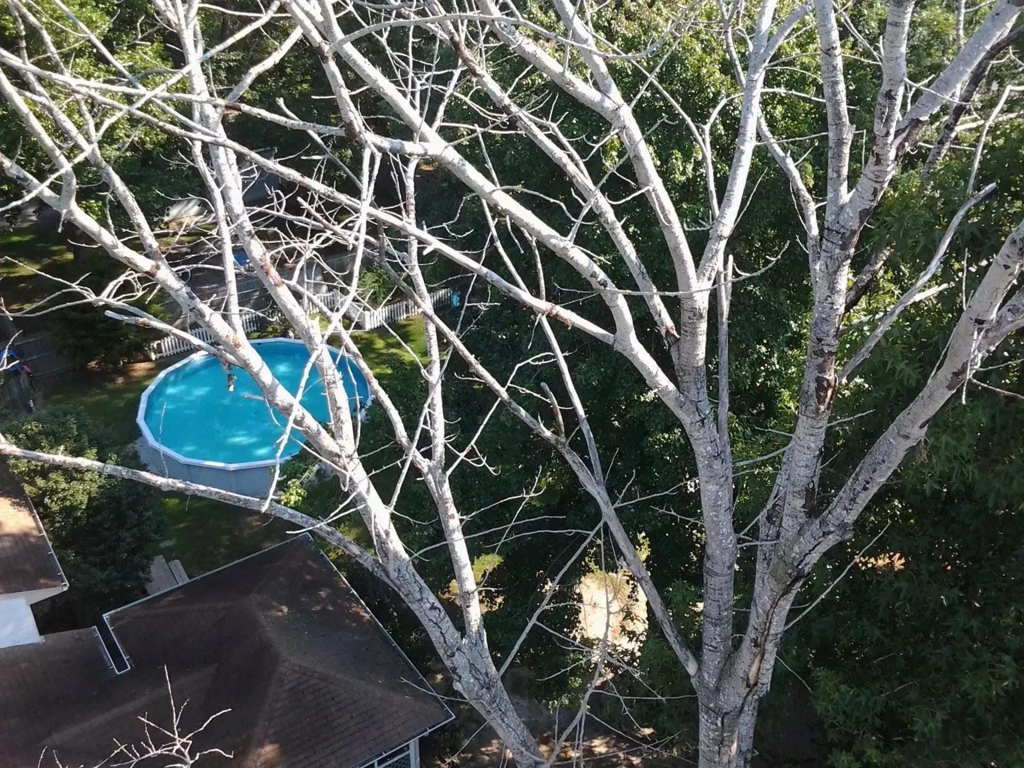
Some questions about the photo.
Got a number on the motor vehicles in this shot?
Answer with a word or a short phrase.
zero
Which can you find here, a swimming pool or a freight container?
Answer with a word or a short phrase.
swimming pool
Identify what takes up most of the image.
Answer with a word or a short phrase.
trees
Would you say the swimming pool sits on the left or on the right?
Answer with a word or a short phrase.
left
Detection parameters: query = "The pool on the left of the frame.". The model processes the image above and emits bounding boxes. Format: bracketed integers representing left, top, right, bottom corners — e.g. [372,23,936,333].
[135,338,375,499]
